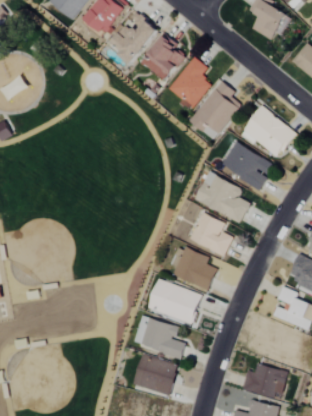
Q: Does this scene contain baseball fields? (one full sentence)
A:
Yes, there's a baseball field down there.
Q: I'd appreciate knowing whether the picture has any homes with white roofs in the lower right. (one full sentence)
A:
Yes, there is a home with a white roof in the lower right.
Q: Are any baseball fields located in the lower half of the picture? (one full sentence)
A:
Yes, the scene does show a baseball field in the lower half of the picture.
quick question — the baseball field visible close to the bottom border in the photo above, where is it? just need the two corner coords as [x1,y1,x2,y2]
[6,344,76,414]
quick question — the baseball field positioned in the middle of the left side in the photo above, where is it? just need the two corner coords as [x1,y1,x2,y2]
[4,218,76,286]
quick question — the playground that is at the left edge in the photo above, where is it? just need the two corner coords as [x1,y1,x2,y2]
[0,56,42,112]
